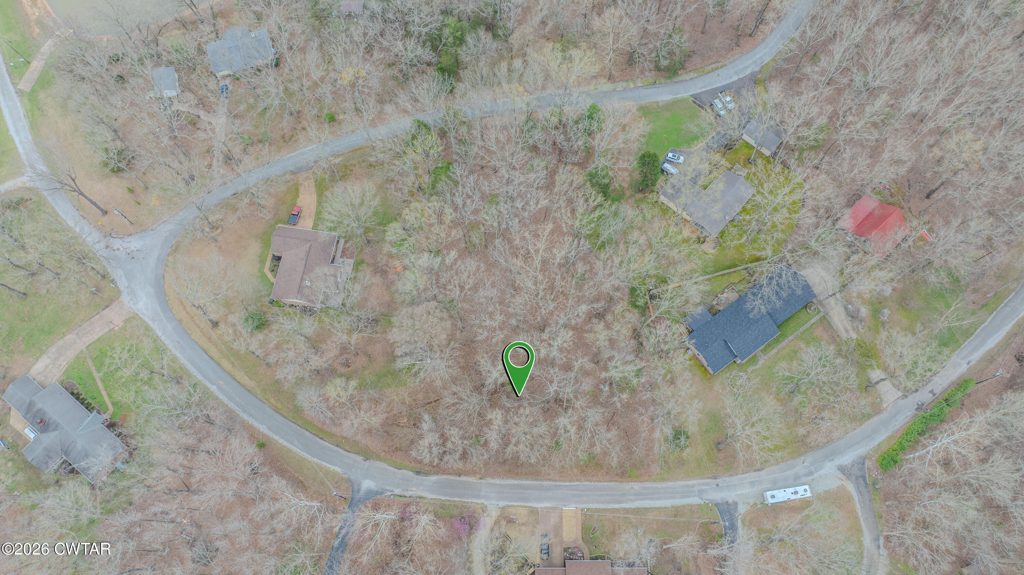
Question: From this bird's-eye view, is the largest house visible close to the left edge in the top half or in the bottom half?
bottom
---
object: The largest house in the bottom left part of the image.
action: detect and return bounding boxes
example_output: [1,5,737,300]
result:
[1,373,131,482]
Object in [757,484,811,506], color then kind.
white trailer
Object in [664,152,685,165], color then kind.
white vehicle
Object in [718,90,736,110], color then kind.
white vehicle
